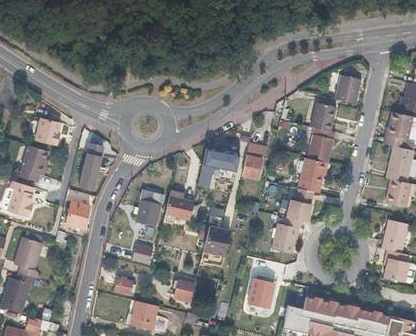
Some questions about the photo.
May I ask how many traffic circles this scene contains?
2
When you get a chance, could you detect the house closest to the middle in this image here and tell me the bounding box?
[198,148,239,188]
